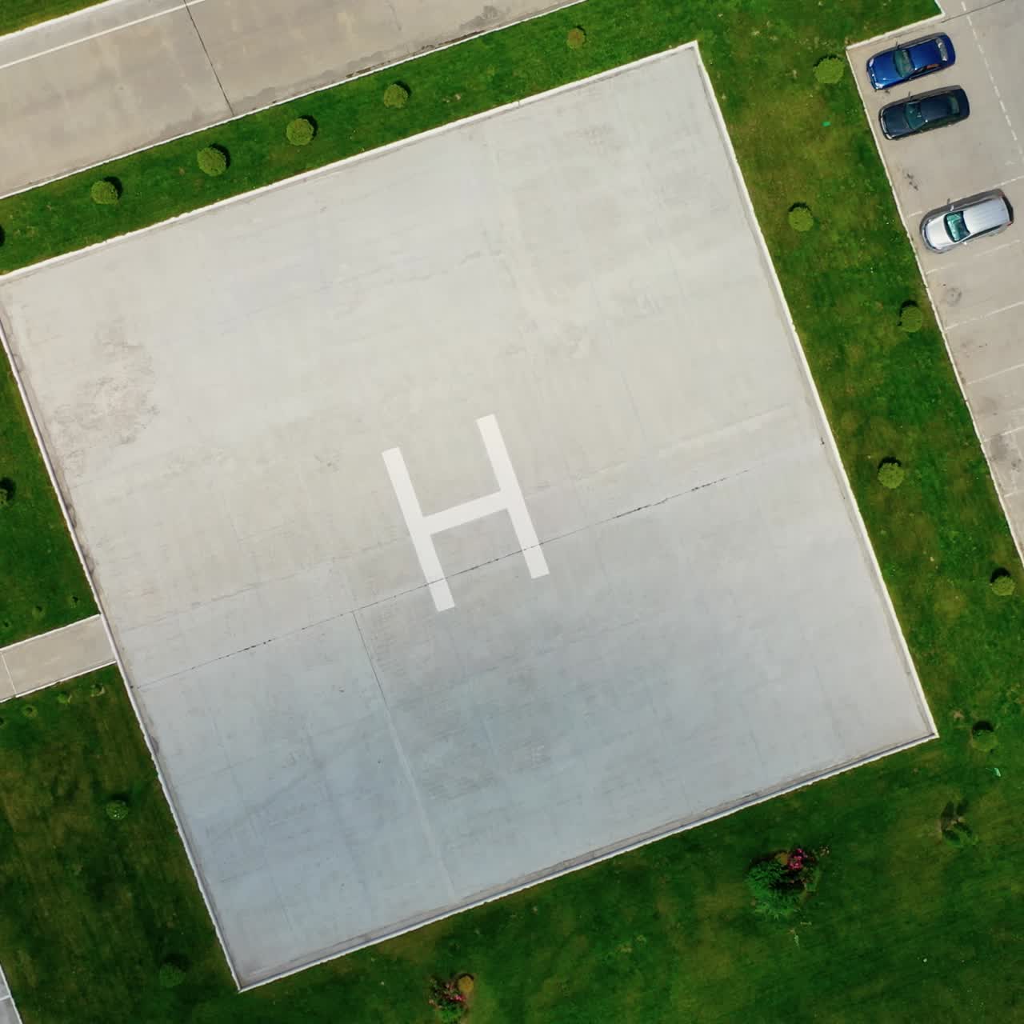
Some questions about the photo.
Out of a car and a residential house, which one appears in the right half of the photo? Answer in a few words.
car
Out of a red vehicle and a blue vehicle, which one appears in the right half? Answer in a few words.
blue vehicle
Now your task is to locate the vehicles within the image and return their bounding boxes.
[919,195,1016,252]
[877,87,971,142]
[866,36,956,91]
